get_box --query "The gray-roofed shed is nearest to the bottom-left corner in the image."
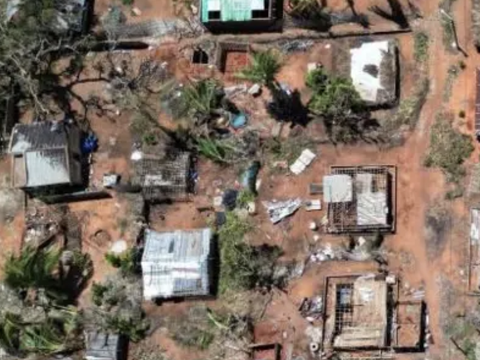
[84,330,128,360]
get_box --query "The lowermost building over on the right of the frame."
[324,272,427,350]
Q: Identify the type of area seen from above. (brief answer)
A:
residential area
